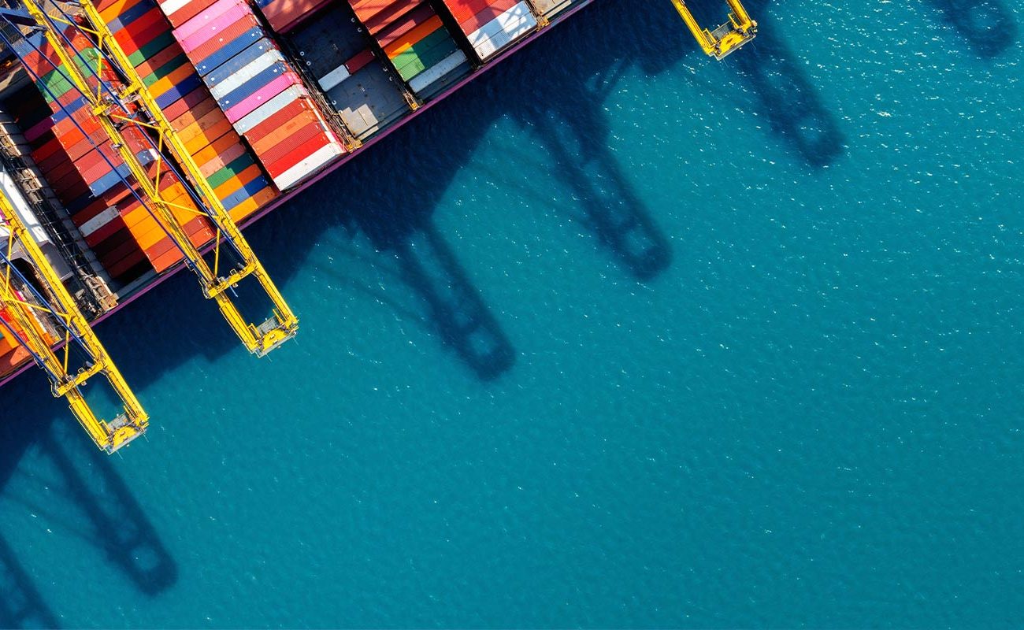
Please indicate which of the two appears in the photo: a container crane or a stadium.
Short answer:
container crane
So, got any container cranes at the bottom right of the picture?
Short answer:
No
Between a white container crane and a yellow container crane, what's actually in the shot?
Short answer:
yellow container crane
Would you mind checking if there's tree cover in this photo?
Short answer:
No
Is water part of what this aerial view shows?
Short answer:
Yes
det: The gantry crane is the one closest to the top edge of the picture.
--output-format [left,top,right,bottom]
[657,0,757,62]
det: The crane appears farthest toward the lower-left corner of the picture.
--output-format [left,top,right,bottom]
[0,188,151,461]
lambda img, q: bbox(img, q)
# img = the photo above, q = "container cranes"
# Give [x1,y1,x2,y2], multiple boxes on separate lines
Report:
[0,0,300,363]
[0,188,151,461]
[657,0,757,62]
